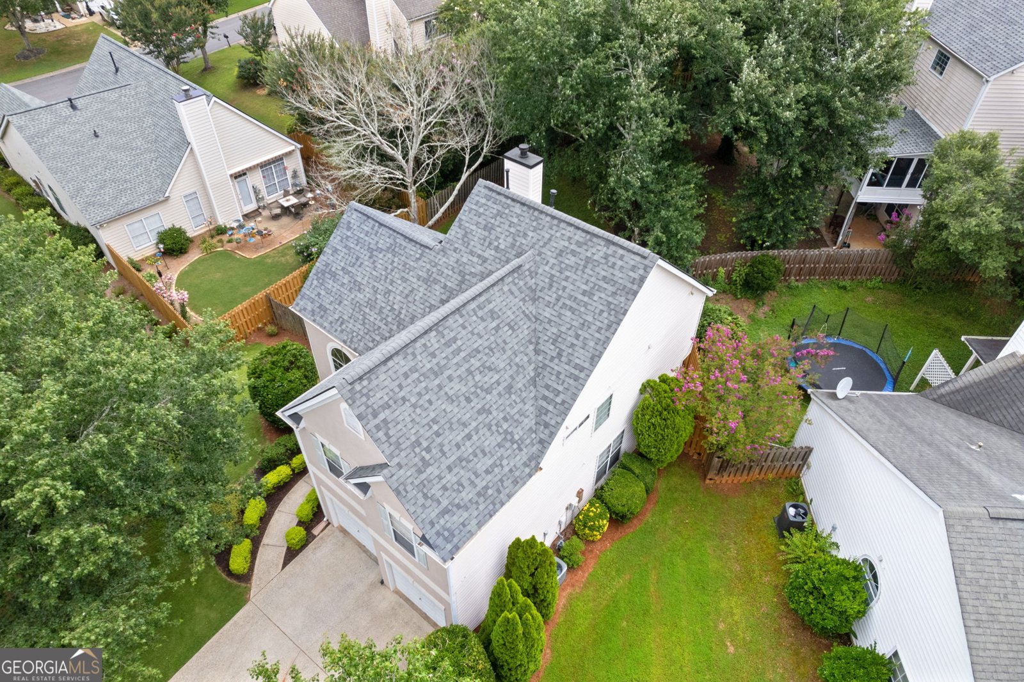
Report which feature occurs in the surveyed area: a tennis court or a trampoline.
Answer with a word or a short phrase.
trampoline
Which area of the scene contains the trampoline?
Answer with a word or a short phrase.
right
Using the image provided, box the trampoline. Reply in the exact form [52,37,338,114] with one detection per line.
[787,309,924,404]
